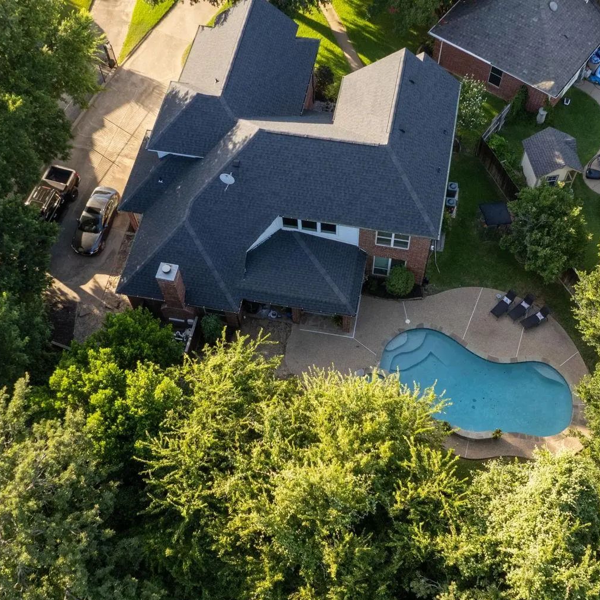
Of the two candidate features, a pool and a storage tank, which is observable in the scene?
pool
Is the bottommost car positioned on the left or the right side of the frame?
left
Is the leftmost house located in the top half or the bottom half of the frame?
top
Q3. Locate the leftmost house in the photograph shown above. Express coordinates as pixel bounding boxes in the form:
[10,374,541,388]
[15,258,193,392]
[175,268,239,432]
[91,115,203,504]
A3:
[117,0,460,334]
